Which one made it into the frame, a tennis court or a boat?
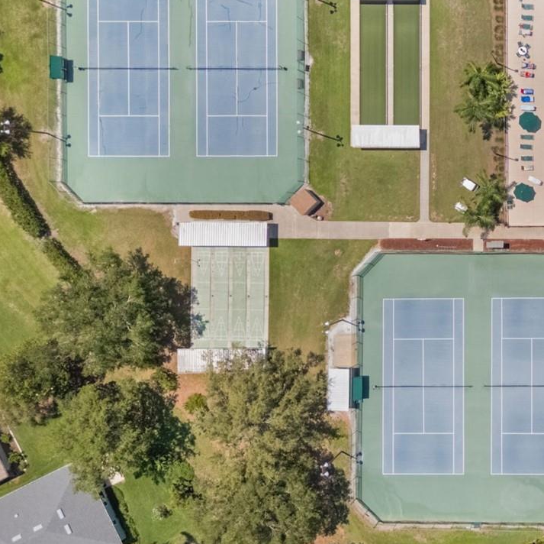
tennis court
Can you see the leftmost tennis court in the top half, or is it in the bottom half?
top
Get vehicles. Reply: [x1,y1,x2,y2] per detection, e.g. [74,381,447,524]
[451,200,470,214]
[459,177,476,191]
